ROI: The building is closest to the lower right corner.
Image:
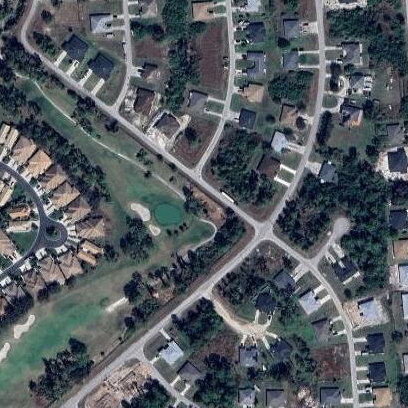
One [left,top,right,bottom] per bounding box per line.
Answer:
[374,387,391,406]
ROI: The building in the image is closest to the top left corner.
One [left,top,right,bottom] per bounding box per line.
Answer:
[61,31,90,58]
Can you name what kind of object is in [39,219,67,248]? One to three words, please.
roundabout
